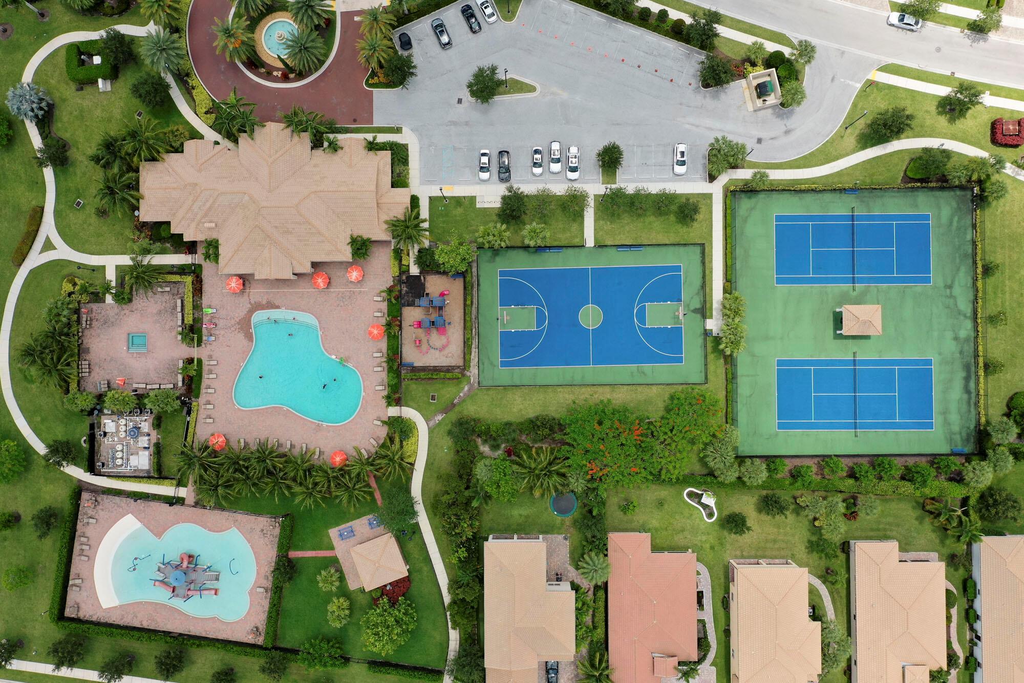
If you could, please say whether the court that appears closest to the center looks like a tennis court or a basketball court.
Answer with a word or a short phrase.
basketball court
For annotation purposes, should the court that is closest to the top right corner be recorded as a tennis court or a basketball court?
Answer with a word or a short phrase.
tennis court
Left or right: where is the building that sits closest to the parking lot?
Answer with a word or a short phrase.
left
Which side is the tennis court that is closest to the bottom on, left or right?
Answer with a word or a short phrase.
right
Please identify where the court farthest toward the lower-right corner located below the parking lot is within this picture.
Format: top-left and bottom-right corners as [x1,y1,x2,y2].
[776,358,935,430]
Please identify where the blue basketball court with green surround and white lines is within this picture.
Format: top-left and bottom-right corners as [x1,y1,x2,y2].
[477,244,707,387]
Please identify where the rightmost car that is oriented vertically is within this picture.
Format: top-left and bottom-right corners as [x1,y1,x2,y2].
[674,141,689,174]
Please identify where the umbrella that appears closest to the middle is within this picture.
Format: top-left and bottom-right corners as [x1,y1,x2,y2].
[369,324,385,340]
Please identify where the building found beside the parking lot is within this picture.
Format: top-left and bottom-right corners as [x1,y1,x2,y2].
[139,119,411,281]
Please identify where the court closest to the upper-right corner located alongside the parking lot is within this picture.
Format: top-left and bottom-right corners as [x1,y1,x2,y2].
[774,213,932,286]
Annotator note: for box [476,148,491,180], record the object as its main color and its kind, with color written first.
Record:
white car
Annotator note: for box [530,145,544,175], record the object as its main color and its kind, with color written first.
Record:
white car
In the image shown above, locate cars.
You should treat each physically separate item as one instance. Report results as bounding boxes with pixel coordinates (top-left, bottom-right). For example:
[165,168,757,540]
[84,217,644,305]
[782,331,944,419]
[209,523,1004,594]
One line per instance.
[548,139,563,173]
[674,141,689,174]
[476,0,497,22]
[430,16,452,50]
[566,145,582,179]
[530,145,544,175]
[497,148,512,181]
[476,148,491,180]
[889,12,924,30]
[545,660,560,683]
[460,1,482,34]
